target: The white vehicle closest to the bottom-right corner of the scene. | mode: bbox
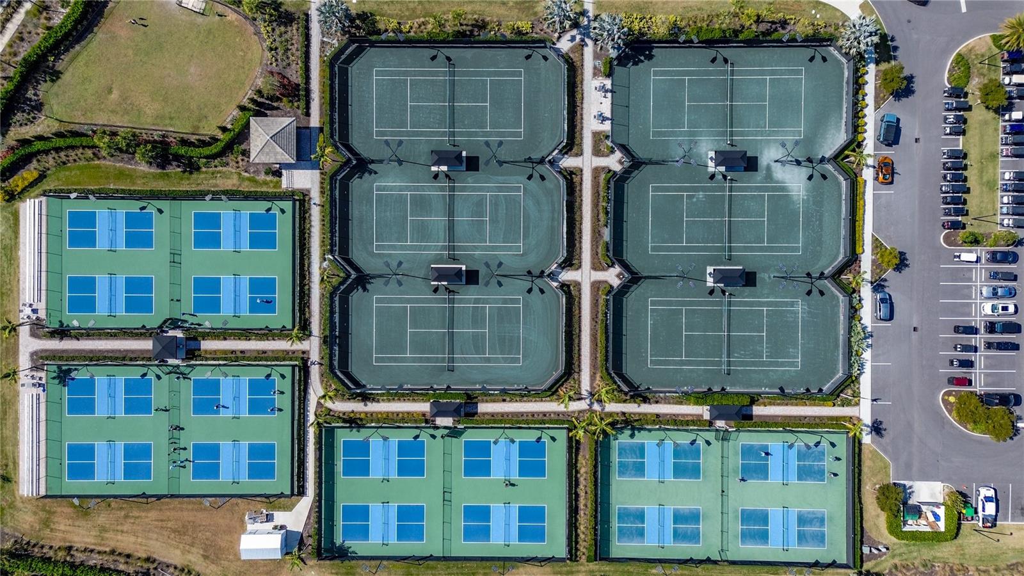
[975,486,994,526]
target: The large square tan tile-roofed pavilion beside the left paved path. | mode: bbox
[249,117,300,165]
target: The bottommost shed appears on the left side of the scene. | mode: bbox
[237,529,286,560]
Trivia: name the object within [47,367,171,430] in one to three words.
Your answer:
sports court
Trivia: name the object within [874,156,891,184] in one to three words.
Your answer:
car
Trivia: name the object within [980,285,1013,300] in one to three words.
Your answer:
car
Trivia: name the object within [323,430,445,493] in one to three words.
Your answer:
sports court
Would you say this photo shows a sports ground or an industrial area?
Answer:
sports ground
